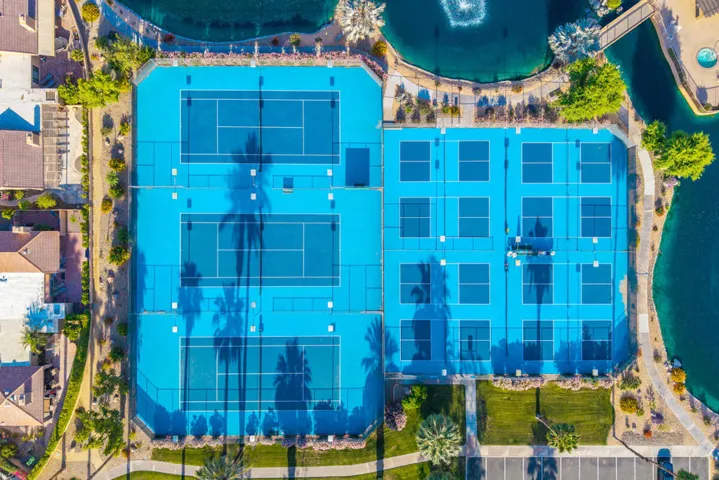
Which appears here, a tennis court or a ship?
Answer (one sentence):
There is a tennis court in the scene.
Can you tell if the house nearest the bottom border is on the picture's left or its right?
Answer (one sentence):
The house nearest the bottom border sits on the left side.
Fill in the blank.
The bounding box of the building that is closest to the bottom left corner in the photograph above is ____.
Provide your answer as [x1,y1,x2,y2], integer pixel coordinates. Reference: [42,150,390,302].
[0,365,51,425]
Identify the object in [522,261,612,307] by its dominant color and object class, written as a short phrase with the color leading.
blue sports court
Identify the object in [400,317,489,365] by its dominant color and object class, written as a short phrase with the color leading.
blue sports court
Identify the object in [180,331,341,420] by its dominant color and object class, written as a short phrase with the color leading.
blue tennis court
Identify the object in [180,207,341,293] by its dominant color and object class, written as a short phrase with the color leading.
blue tennis court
